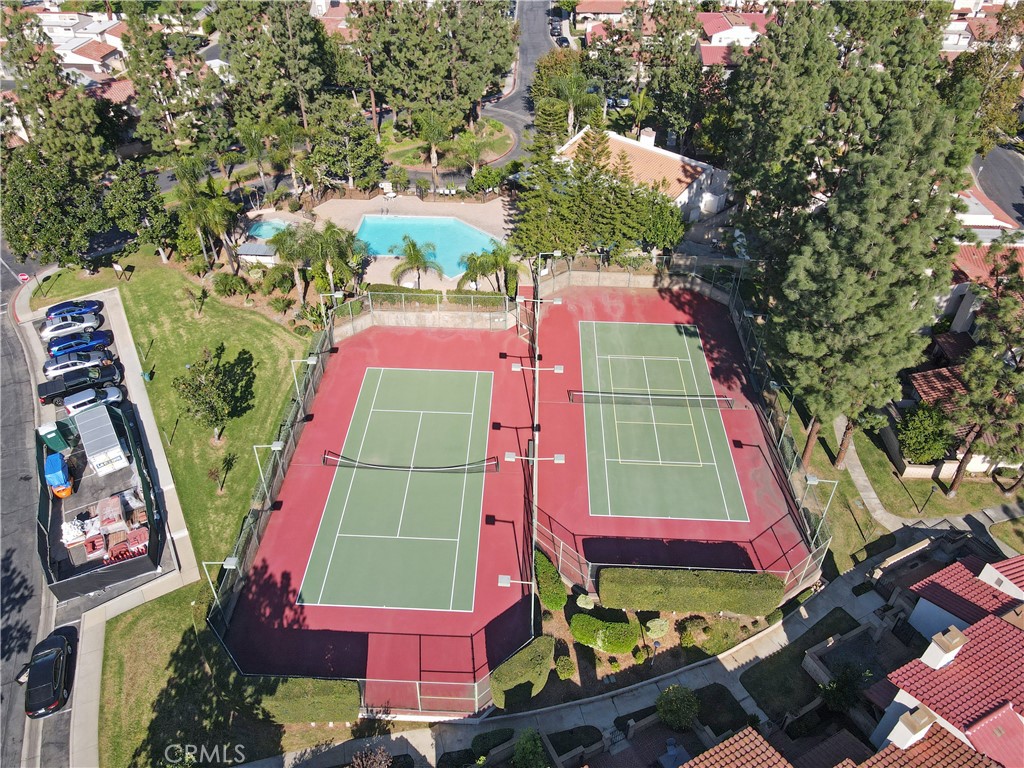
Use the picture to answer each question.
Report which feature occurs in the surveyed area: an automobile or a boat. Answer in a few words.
automobile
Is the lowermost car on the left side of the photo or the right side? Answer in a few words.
left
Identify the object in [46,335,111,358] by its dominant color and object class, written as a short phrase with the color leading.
blue car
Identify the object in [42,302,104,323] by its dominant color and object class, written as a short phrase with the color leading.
blue car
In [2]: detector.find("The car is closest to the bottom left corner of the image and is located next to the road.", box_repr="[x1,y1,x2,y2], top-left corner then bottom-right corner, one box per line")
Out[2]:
[18,639,81,723]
